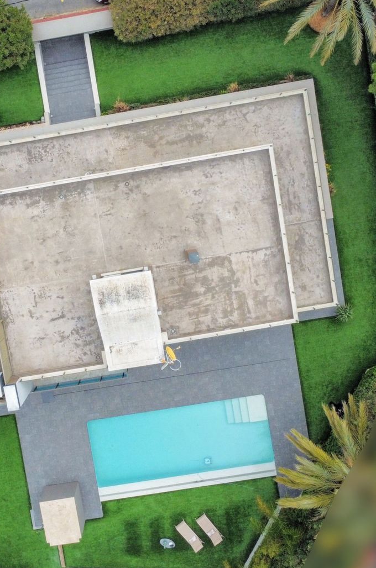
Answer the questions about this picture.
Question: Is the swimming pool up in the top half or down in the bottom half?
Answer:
bottom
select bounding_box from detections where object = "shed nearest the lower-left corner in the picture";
[40,482,86,546]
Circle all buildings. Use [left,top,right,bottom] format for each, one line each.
[0,80,338,411]
[40,482,86,546]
